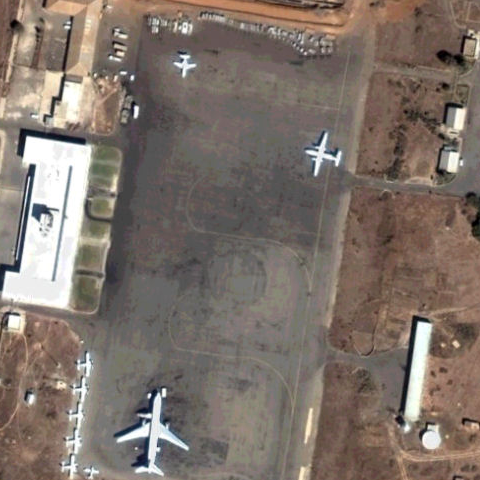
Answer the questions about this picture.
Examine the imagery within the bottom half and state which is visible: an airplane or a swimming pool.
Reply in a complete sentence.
The one visible within the bottom half is an airplane.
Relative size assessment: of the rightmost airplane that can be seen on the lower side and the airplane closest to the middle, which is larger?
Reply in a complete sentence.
Compared with the airplane closest to the middle, the rightmost airplane that can be seen on the lower side is the bigger one.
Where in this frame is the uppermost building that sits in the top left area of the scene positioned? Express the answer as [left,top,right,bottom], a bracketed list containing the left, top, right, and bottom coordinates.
[45,0,102,75]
